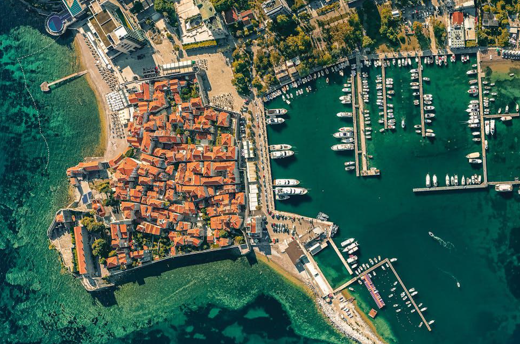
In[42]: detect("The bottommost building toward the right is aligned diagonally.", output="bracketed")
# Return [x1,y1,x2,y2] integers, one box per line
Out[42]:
[305,261,333,296]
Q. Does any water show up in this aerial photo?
Yes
